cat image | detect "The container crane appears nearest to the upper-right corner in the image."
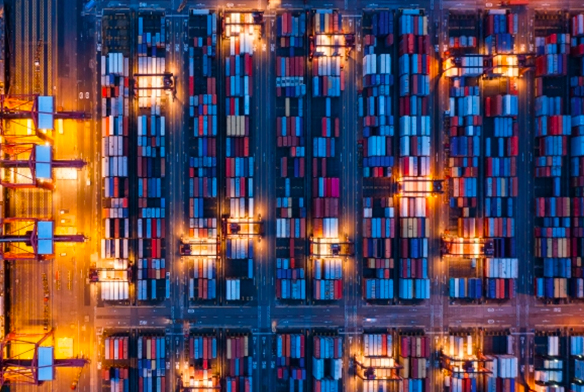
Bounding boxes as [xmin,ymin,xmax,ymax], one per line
[479,51,540,77]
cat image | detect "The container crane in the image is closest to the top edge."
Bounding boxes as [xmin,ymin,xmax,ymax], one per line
[219,9,268,38]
